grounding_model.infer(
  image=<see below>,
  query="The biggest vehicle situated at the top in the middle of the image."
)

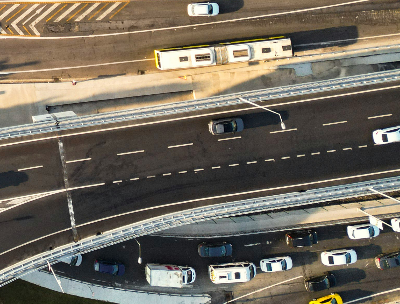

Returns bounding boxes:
[151,38,297,71]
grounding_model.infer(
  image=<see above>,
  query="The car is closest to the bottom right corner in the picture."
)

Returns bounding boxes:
[374,248,400,269]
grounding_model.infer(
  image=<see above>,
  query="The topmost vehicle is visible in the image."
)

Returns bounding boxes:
[185,1,219,17]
